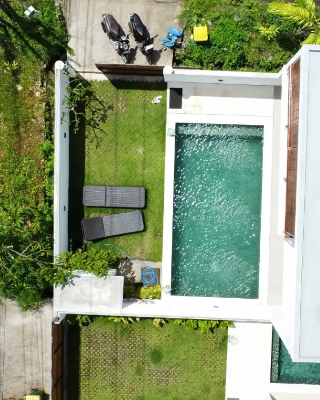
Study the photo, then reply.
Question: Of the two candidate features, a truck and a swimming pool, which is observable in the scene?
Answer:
swimming pool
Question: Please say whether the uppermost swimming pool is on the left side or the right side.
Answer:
right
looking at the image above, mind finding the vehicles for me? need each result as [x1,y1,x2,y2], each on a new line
[99,3,130,64]
[127,1,156,62]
